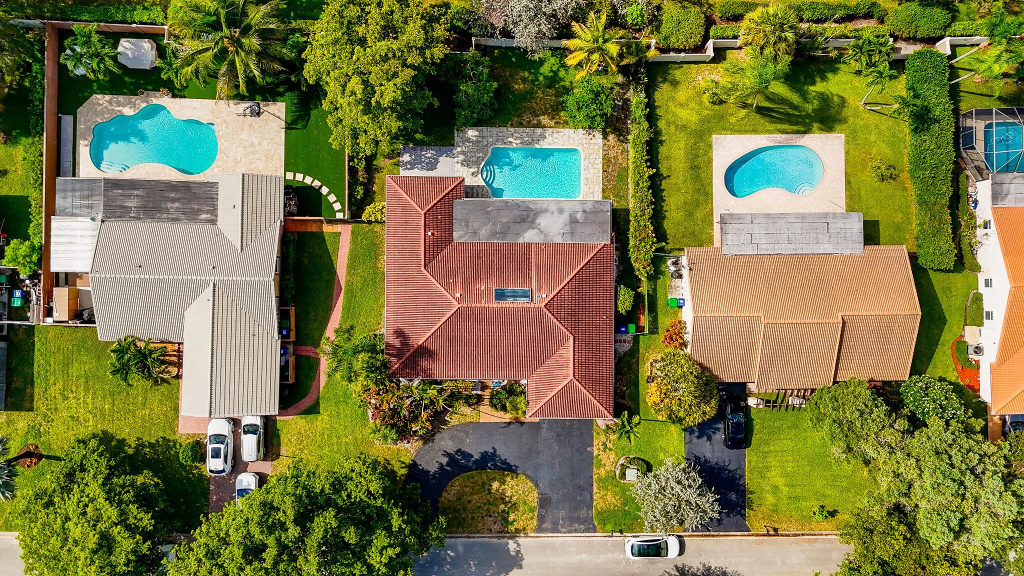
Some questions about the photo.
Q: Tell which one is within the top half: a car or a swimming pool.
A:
swimming pool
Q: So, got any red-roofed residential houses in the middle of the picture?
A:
Yes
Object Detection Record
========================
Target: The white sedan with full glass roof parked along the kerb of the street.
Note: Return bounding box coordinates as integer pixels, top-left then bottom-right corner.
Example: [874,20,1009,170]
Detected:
[626,536,682,564]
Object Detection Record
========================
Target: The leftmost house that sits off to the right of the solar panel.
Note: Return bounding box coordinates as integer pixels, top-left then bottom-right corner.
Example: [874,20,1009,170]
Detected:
[682,212,923,391]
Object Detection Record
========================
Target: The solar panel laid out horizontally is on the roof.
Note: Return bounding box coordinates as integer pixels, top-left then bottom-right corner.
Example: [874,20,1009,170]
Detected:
[494,287,531,304]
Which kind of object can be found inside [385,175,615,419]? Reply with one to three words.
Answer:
house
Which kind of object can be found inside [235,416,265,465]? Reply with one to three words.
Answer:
car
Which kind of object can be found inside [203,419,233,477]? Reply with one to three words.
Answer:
car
